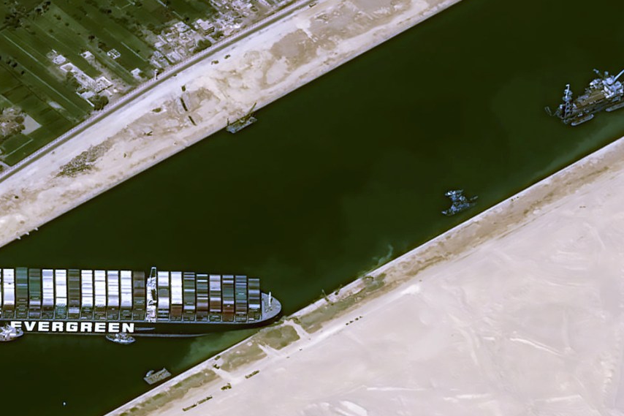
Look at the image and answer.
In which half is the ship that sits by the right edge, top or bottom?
top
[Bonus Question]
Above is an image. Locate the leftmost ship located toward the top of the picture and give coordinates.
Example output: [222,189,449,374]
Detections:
[228,110,256,134]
